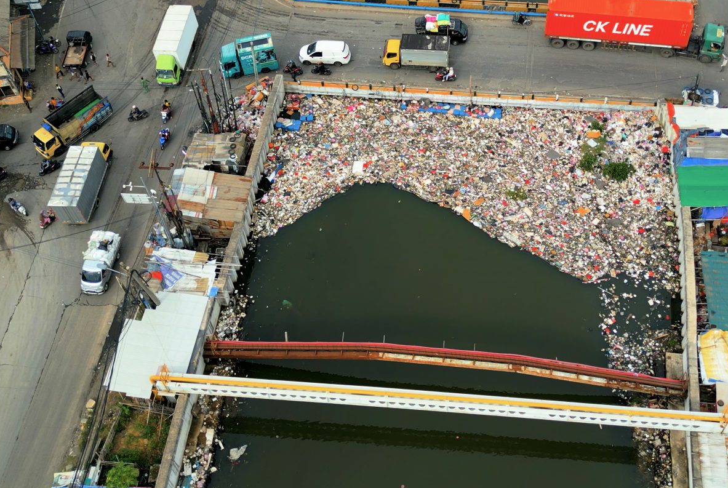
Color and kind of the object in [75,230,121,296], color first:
white truck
